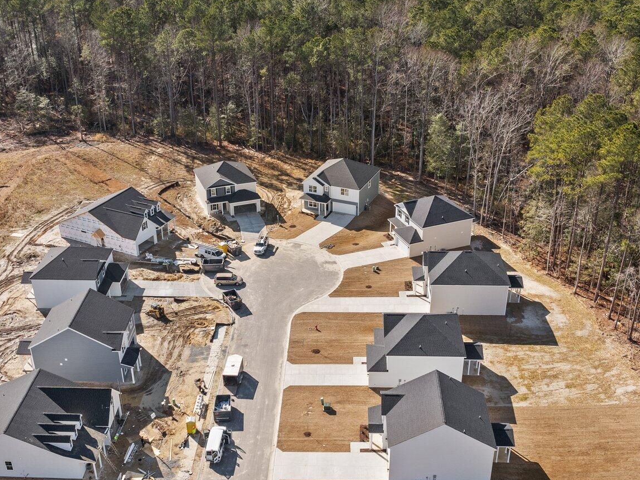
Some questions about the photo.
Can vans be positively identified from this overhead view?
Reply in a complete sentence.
Yes, I can see a van in this picture.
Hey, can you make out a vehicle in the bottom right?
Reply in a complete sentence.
No, there is no vehicle in the bottom right.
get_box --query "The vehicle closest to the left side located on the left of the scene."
[142,303,167,322]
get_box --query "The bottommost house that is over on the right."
[369,368,517,480]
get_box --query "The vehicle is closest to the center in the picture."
[250,229,272,251]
